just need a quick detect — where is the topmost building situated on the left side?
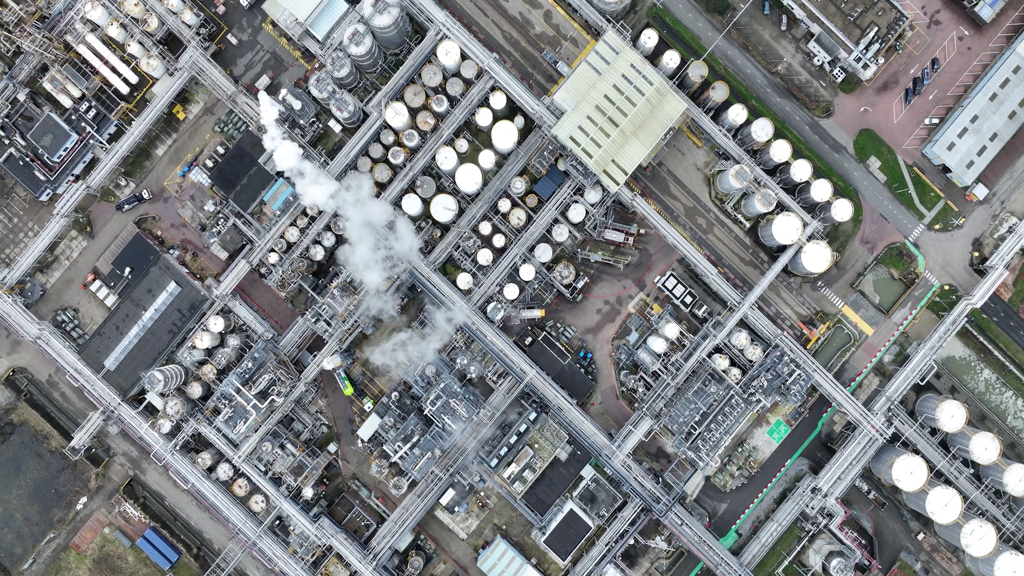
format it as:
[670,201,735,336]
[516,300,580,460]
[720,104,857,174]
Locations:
[260,0,351,62]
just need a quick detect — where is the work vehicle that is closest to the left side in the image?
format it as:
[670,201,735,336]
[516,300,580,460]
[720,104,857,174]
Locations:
[77,272,99,293]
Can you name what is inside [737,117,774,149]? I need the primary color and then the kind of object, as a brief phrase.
white storage tank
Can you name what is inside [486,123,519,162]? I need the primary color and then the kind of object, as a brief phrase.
white storage tank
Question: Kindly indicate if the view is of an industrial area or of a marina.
industrial area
